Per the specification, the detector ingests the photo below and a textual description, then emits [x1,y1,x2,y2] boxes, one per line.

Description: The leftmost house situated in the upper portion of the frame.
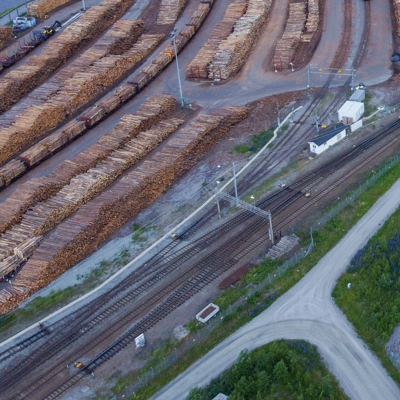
[307,122,352,158]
